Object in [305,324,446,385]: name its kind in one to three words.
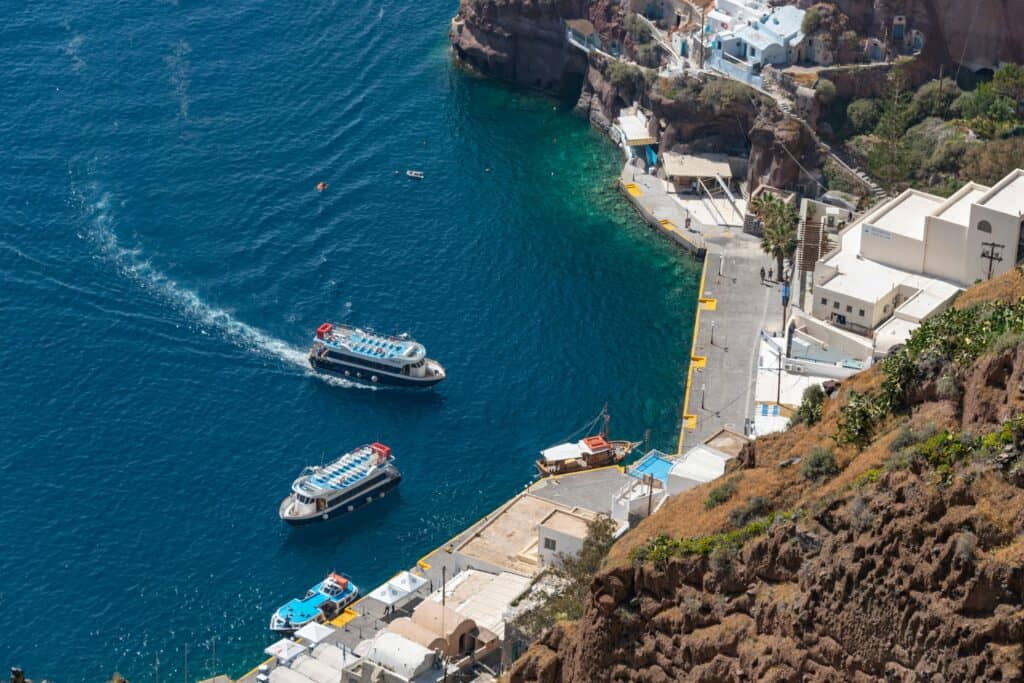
ship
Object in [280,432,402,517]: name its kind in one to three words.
ship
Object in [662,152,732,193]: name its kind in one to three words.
building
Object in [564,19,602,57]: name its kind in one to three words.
house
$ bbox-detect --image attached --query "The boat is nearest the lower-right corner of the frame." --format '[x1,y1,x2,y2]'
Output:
[538,398,639,476]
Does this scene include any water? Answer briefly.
Yes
